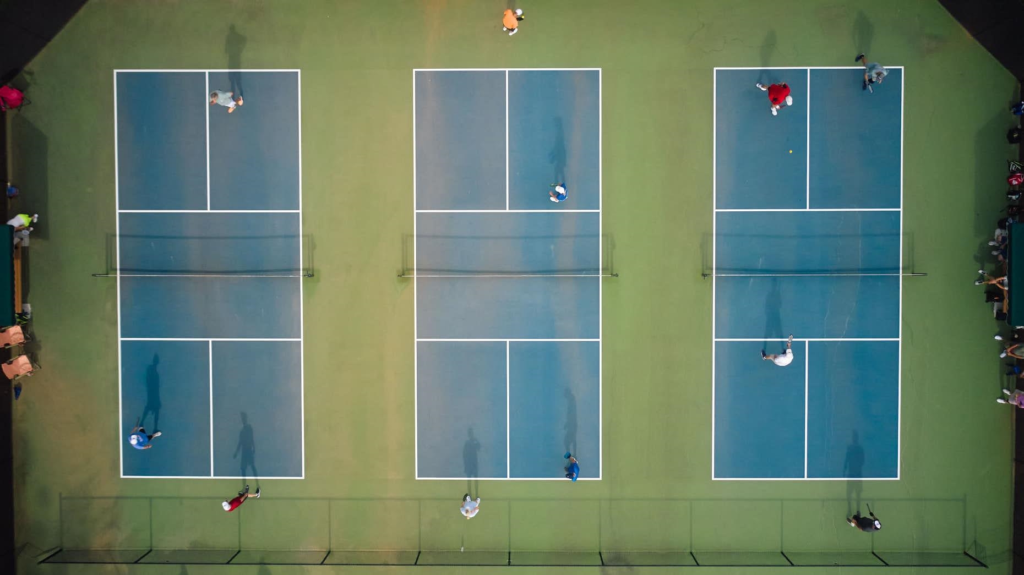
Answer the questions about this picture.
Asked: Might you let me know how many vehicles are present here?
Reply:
0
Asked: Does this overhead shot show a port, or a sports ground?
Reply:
sports ground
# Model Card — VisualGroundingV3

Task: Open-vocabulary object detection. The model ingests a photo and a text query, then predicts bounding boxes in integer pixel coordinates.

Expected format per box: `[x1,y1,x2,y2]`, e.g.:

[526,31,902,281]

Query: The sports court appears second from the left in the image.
[414,68,601,479]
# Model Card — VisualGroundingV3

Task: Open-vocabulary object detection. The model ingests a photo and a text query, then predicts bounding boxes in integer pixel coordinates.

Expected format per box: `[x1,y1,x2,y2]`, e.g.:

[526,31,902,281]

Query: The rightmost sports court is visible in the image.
[713,66,904,479]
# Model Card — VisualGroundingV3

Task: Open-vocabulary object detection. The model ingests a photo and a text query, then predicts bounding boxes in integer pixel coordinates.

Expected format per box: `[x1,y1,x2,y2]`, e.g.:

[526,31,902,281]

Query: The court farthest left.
[114,69,304,478]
